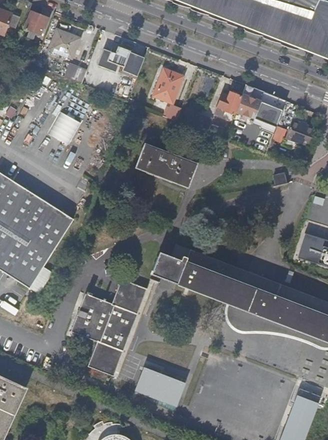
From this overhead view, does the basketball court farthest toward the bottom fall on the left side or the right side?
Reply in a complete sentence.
It is on the right.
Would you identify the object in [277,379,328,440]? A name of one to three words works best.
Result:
building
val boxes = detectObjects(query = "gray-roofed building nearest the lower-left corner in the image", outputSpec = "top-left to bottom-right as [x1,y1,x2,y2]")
[0,374,29,440]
